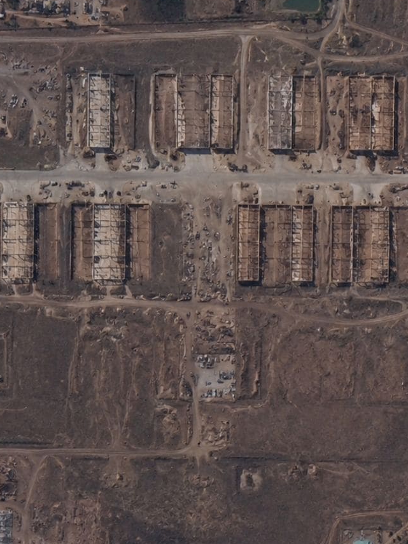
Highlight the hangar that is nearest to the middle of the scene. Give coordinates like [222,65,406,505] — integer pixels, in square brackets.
[237,205,259,281]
